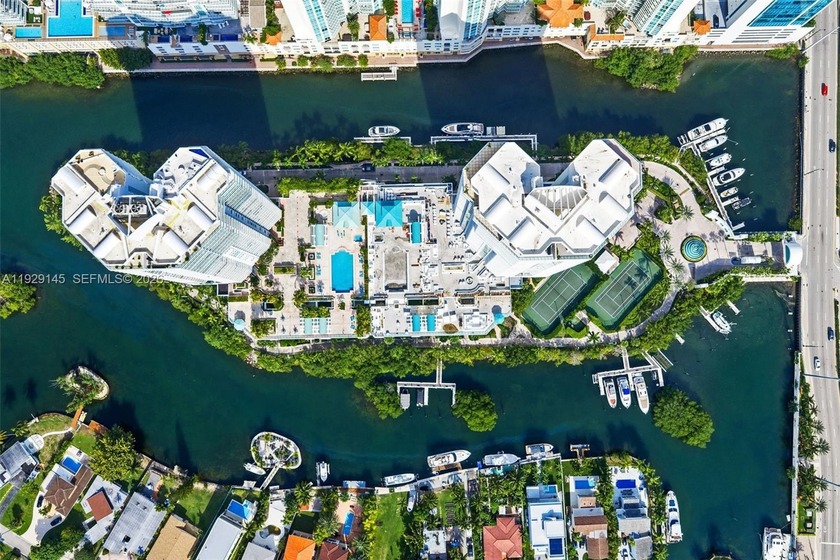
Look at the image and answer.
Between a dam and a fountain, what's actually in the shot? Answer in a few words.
fountain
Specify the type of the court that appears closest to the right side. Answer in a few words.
tennis court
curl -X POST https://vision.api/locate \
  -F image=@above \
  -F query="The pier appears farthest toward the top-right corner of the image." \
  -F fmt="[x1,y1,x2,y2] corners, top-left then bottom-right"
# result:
[678,127,748,231]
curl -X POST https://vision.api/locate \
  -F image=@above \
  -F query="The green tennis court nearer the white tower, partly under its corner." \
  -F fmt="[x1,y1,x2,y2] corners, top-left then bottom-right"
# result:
[523,260,602,333]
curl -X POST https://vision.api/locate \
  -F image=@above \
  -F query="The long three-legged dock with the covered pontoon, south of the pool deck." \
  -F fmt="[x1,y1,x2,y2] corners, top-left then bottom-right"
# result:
[399,361,457,406]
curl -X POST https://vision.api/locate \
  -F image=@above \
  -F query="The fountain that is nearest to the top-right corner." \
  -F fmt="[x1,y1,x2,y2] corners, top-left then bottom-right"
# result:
[680,235,707,262]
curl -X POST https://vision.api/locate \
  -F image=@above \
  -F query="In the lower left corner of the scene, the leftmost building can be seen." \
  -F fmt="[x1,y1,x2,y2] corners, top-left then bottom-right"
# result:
[0,440,40,491]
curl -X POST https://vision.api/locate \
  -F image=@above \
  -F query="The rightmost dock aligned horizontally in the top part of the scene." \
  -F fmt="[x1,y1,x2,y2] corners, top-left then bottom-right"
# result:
[430,134,538,151]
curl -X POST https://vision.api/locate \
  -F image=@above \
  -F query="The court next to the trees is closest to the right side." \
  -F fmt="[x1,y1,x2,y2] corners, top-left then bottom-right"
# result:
[587,250,664,329]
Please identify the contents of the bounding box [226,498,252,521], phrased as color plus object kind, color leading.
blue swimming pool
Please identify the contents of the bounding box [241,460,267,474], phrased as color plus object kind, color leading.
white boat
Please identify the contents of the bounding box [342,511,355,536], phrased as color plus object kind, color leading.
blue swimming pool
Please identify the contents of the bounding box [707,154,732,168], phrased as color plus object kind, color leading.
white boat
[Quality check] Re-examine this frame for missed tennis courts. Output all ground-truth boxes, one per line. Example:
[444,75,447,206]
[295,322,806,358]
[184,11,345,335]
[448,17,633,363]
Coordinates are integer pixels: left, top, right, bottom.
[523,260,602,333]
[587,250,664,329]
